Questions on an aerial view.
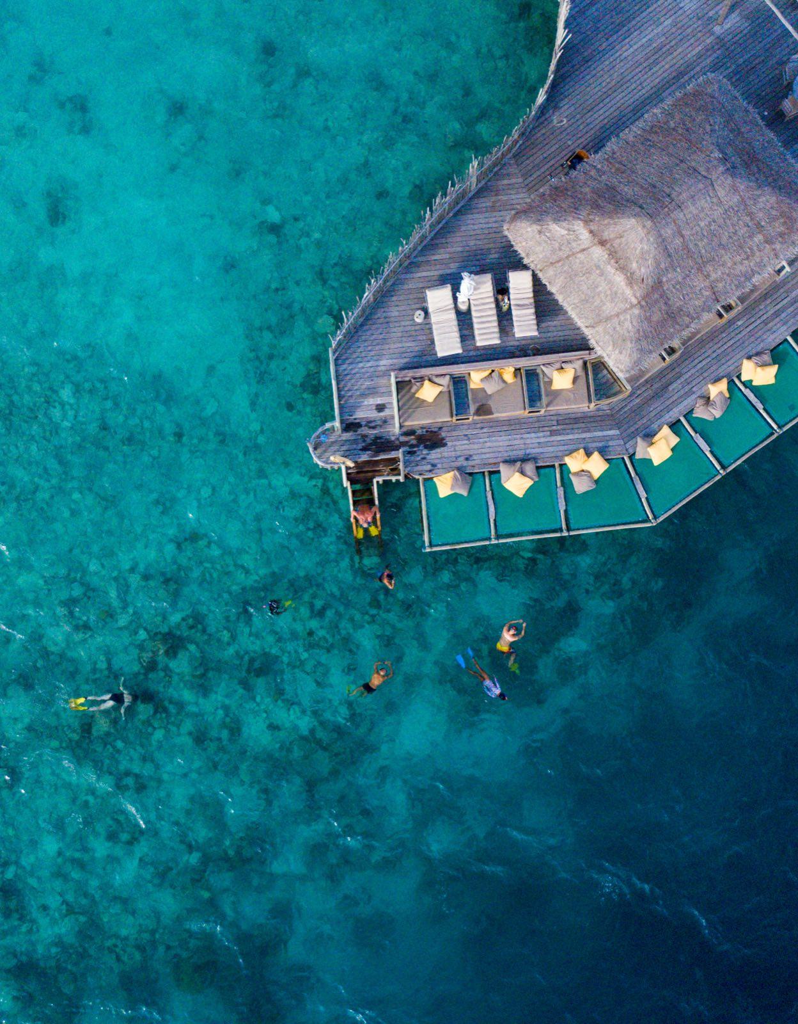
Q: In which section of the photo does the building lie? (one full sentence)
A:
The building sits in the top right section of the image.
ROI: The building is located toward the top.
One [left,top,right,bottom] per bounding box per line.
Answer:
[502,80,798,384]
